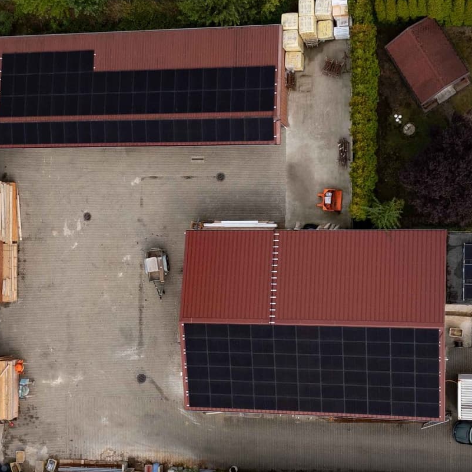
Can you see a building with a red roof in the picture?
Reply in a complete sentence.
Yes, you can see a building with a red roof in this photo.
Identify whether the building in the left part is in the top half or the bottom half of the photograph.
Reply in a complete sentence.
The building in the left part is in the top half of the image.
